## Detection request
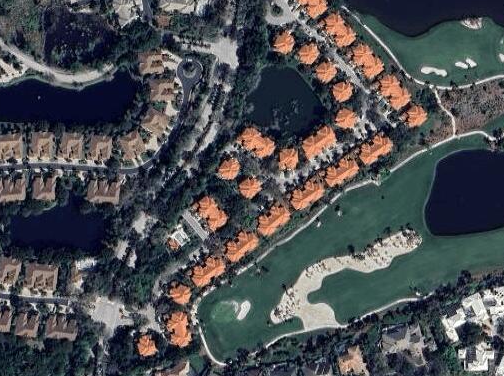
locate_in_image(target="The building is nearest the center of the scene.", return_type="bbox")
[236,176,263,200]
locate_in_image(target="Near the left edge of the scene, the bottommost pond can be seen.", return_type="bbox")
[9,191,121,253]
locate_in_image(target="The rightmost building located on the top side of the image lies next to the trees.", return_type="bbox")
[403,104,427,128]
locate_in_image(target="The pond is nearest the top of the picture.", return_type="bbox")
[44,4,118,65]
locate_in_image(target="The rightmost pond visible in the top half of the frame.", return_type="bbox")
[245,65,327,141]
